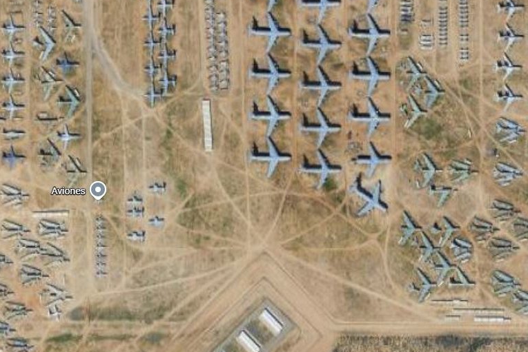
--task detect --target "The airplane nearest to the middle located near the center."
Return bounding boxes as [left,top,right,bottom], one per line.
[250,137,291,178]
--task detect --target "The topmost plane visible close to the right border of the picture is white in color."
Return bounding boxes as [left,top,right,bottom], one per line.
[499,0,525,20]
